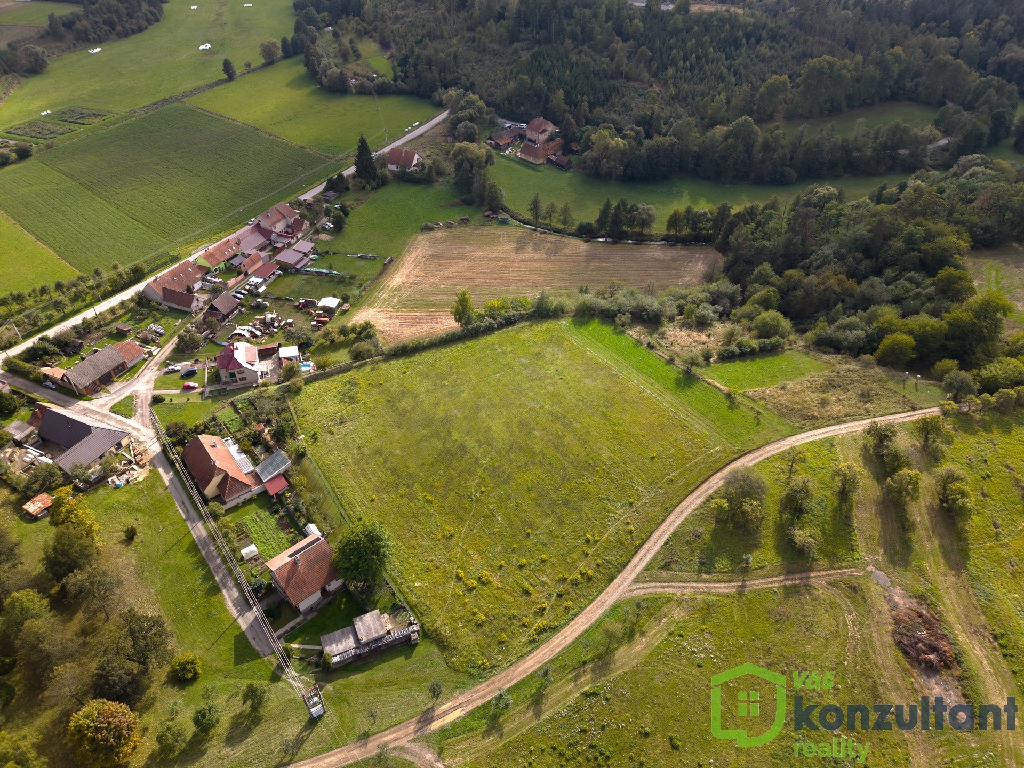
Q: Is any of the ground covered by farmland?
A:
Yes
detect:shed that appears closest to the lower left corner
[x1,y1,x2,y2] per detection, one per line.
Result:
[22,492,54,520]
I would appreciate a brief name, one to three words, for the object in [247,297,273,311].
work vehicle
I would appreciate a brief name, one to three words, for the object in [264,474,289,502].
shed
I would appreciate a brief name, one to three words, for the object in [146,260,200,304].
house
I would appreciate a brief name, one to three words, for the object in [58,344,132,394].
barn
